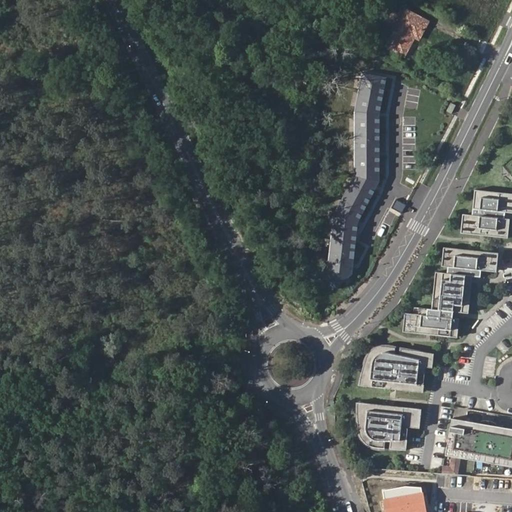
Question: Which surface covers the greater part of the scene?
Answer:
trees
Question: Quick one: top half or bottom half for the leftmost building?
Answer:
top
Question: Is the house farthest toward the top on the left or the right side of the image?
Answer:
right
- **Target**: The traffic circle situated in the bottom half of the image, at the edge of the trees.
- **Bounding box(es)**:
[250,323,332,405]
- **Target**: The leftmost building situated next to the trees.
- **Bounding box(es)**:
[328,77,388,275]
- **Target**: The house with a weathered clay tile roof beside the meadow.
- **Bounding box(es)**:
[390,10,428,54]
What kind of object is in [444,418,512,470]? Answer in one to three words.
building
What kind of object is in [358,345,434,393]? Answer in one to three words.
building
